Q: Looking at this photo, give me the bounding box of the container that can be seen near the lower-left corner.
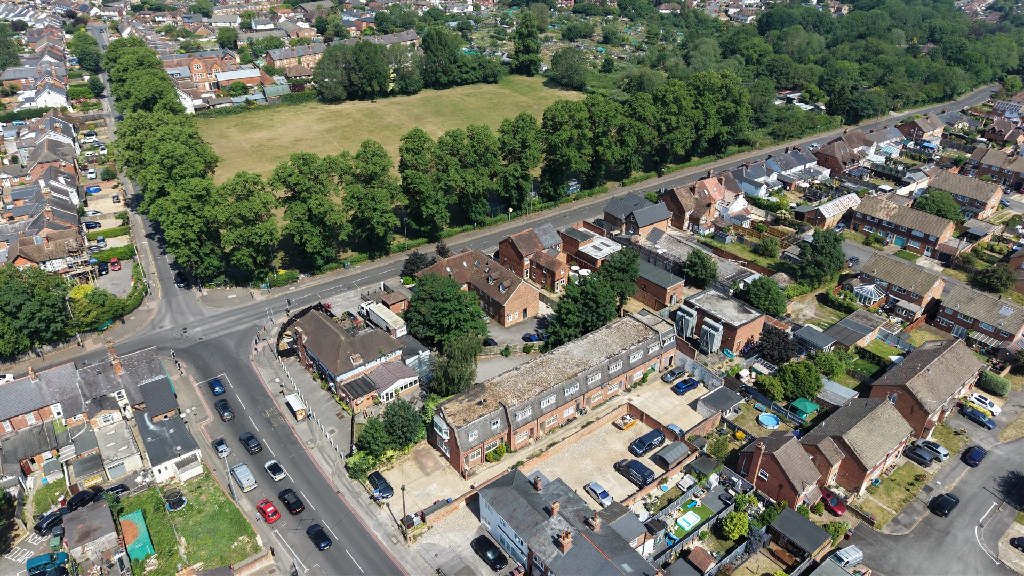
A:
[130,506,159,575]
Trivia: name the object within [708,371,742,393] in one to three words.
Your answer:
shed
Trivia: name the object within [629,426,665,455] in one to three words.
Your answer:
van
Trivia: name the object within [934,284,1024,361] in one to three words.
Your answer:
house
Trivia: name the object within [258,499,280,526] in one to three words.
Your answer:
car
